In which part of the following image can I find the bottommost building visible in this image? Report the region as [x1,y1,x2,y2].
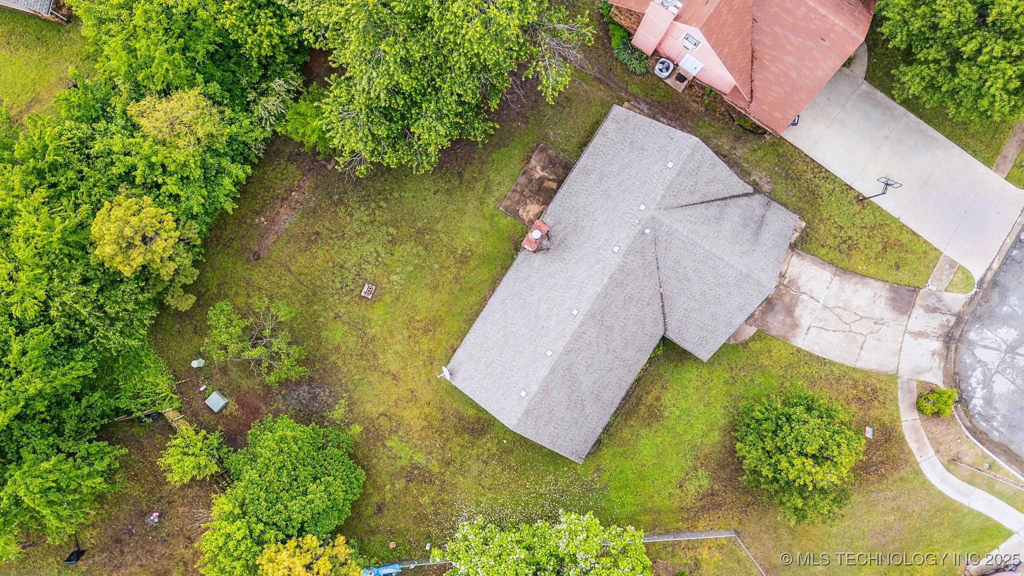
[445,105,799,463]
